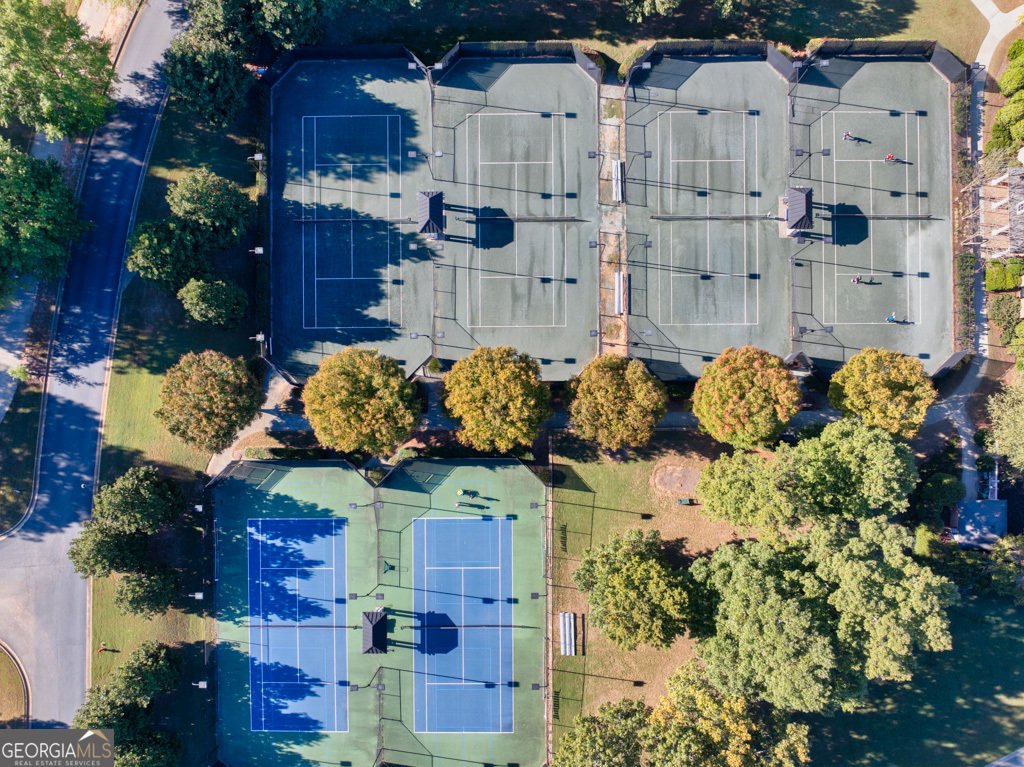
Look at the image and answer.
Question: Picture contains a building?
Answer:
Yes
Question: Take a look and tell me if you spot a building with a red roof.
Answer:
No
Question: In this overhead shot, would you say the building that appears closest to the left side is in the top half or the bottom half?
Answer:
bottom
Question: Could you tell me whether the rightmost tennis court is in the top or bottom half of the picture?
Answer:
top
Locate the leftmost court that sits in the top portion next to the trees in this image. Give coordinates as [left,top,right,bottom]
[272,59,433,380]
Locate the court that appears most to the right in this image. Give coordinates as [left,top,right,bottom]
[790,56,952,377]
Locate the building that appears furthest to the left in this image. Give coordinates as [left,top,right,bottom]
[361,608,388,654]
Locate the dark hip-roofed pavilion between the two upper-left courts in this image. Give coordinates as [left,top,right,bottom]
[418,189,446,241]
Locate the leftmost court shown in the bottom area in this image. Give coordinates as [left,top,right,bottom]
[214,460,381,767]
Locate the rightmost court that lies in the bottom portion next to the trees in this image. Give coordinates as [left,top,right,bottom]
[374,458,546,767]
